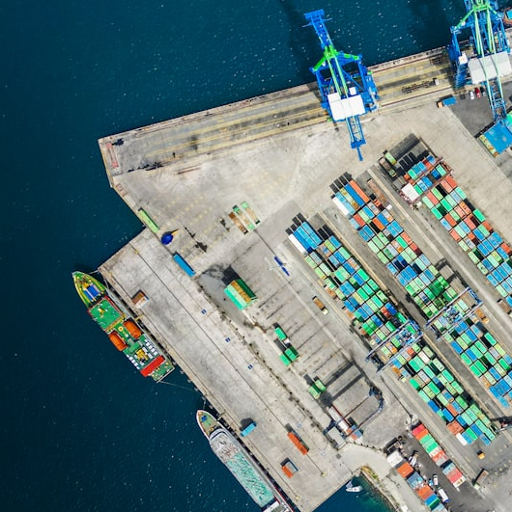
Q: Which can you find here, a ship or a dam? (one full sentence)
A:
This aerial view contains a ship.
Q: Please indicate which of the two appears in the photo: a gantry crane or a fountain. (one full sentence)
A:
There is a gantry crane in the scene.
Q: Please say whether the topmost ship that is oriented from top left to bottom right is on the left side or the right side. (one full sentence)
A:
It is on the left.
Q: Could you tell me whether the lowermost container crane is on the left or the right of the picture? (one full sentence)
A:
The lowermost container crane is on the right side of the image.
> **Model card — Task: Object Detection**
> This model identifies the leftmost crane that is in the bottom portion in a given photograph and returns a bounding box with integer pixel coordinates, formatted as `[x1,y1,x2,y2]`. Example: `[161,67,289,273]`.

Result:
[329,384,384,443]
